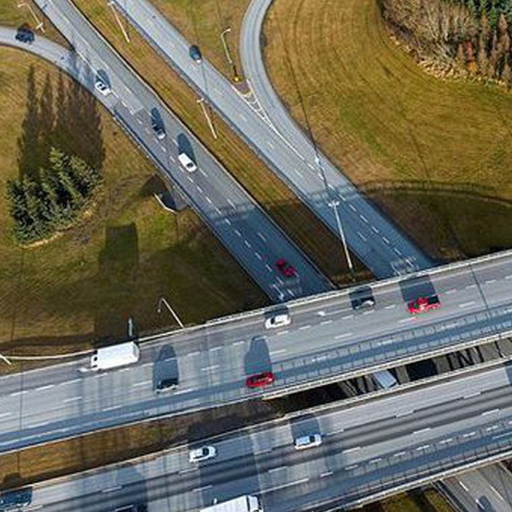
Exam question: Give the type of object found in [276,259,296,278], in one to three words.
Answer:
car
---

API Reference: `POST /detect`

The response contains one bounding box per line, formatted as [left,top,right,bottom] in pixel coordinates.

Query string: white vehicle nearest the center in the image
[264,312,292,328]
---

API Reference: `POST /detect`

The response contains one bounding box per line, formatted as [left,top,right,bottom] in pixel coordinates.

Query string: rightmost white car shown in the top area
[177,152,195,169]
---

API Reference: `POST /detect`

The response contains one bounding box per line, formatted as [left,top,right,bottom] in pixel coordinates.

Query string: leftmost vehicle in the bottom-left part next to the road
[0,489,33,510]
